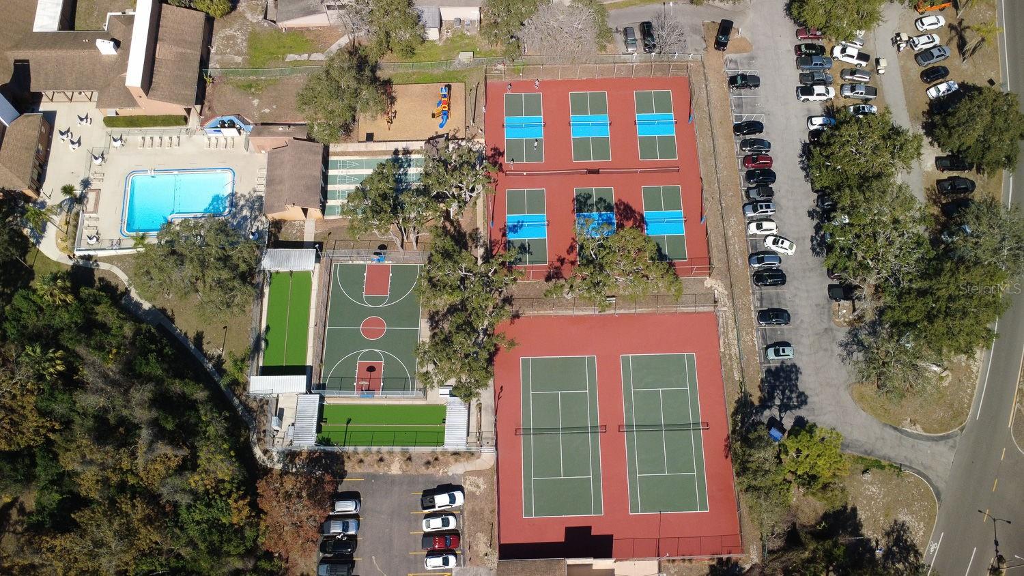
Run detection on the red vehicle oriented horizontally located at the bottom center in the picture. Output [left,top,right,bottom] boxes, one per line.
[421,533,459,551]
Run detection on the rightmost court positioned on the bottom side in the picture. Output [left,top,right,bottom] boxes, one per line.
[620,353,709,514]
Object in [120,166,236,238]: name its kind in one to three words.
swimming pool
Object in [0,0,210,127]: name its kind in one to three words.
building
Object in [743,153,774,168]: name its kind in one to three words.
car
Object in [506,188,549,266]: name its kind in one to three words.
sports court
